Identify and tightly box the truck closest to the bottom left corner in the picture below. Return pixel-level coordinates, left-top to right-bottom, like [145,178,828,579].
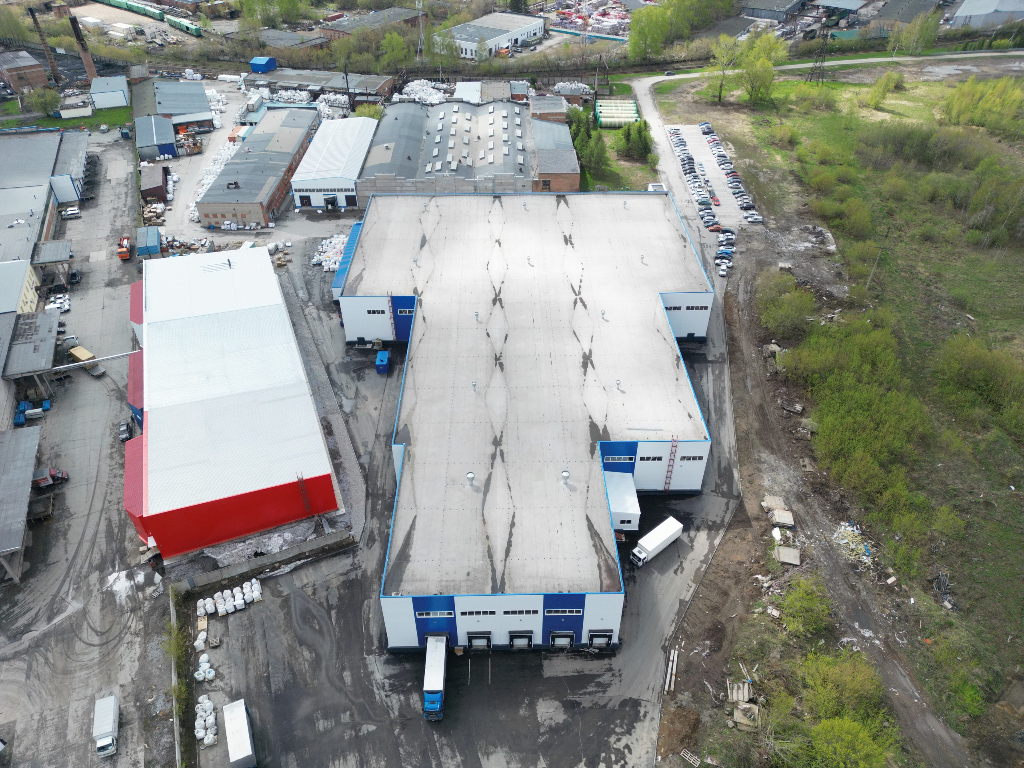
[93,695,120,762]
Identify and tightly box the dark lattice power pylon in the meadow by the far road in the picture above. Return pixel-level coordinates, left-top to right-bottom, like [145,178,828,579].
[809,25,830,84]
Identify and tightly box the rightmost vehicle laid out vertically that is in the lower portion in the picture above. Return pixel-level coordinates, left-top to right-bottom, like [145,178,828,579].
[420,640,447,724]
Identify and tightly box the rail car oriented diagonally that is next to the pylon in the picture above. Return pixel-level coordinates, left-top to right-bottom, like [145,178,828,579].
[825,11,851,29]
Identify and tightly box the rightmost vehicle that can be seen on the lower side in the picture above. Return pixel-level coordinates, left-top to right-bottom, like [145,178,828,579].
[627,516,684,572]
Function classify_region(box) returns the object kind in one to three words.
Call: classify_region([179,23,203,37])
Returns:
rail car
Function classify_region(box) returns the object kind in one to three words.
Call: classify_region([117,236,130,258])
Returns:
vehicle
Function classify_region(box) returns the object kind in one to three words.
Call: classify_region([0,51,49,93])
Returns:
building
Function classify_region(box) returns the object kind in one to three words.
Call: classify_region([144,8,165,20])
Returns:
rail car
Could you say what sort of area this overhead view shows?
industrial area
